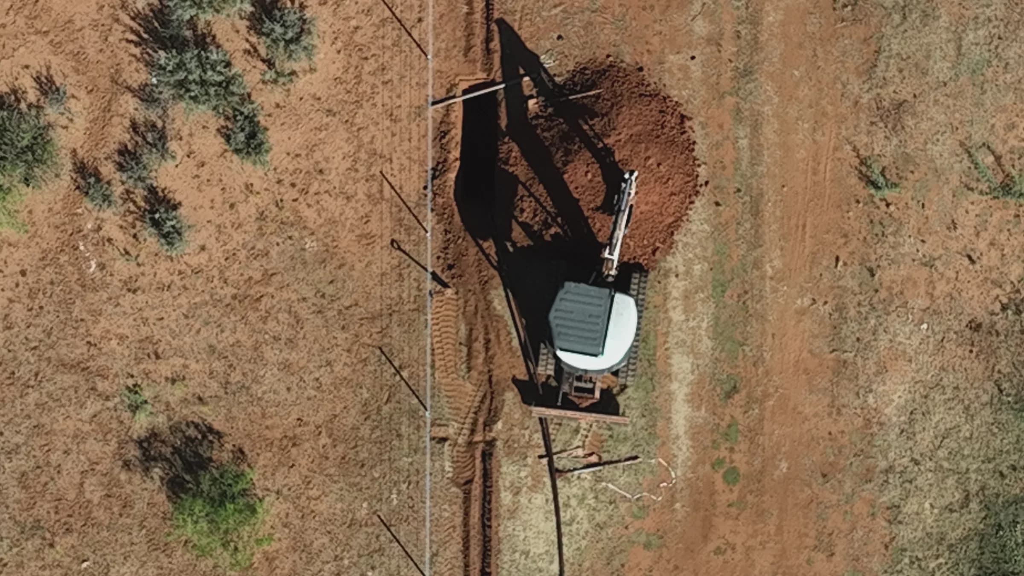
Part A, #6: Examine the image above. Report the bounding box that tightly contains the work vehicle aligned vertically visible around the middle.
[530,167,650,423]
